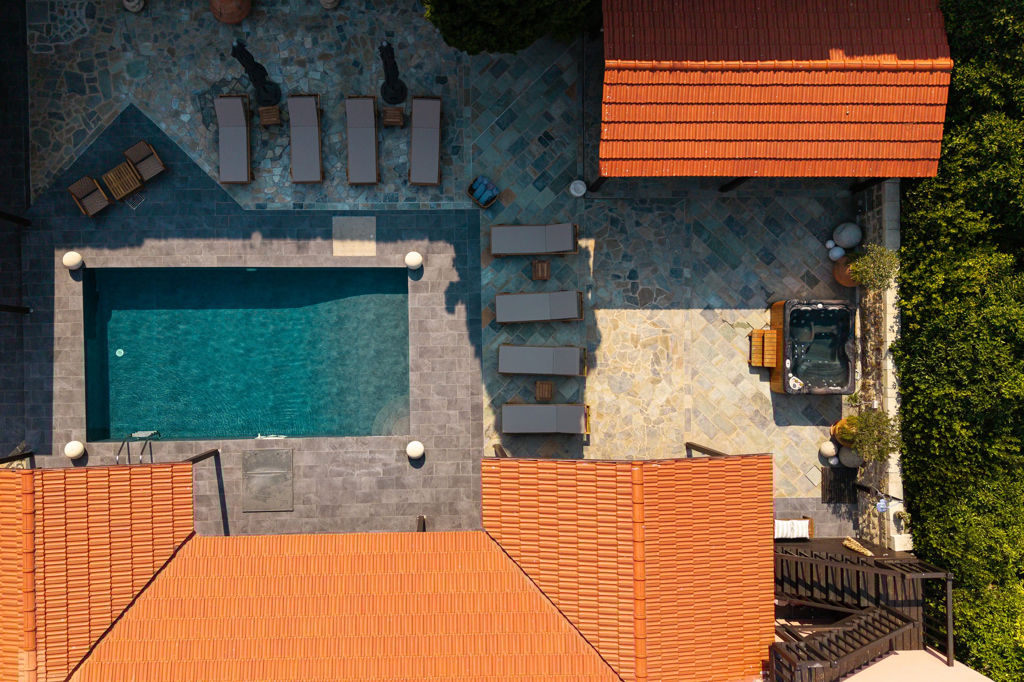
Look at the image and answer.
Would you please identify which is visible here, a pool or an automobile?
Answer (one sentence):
The one in the frame is a pool.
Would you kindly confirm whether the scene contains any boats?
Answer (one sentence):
No, there isn't any boat down there.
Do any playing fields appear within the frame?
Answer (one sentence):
No, the frame has no playing field in it.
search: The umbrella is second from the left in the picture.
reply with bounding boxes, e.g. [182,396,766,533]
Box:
[375,37,407,104]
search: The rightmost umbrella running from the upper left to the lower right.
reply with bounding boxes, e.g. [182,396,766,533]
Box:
[842,534,875,557]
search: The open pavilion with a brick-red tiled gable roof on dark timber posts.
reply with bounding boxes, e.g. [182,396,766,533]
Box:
[584,0,953,194]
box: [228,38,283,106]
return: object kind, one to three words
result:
umbrella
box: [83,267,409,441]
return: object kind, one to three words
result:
swimming pool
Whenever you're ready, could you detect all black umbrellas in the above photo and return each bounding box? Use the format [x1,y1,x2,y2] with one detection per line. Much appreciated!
[375,37,407,104]
[228,38,283,106]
